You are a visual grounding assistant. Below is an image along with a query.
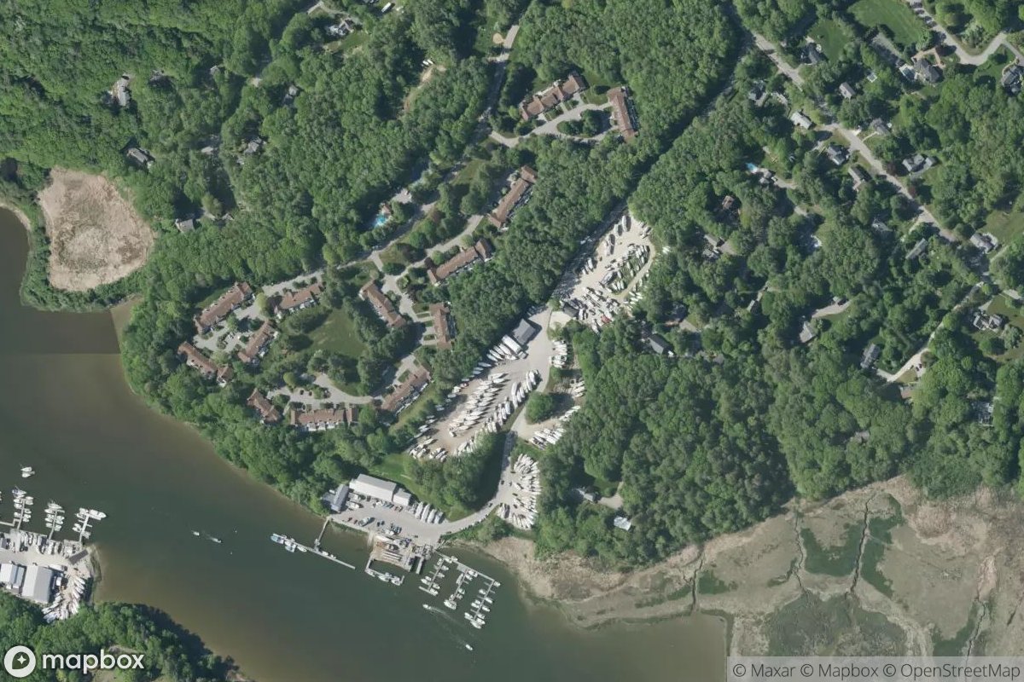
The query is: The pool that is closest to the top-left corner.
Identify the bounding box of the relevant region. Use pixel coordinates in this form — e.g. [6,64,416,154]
[370,210,390,227]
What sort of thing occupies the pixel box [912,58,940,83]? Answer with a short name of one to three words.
house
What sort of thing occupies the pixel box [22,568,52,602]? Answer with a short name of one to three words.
shed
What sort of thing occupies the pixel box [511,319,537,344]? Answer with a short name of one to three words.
building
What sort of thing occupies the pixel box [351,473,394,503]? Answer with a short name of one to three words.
shed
